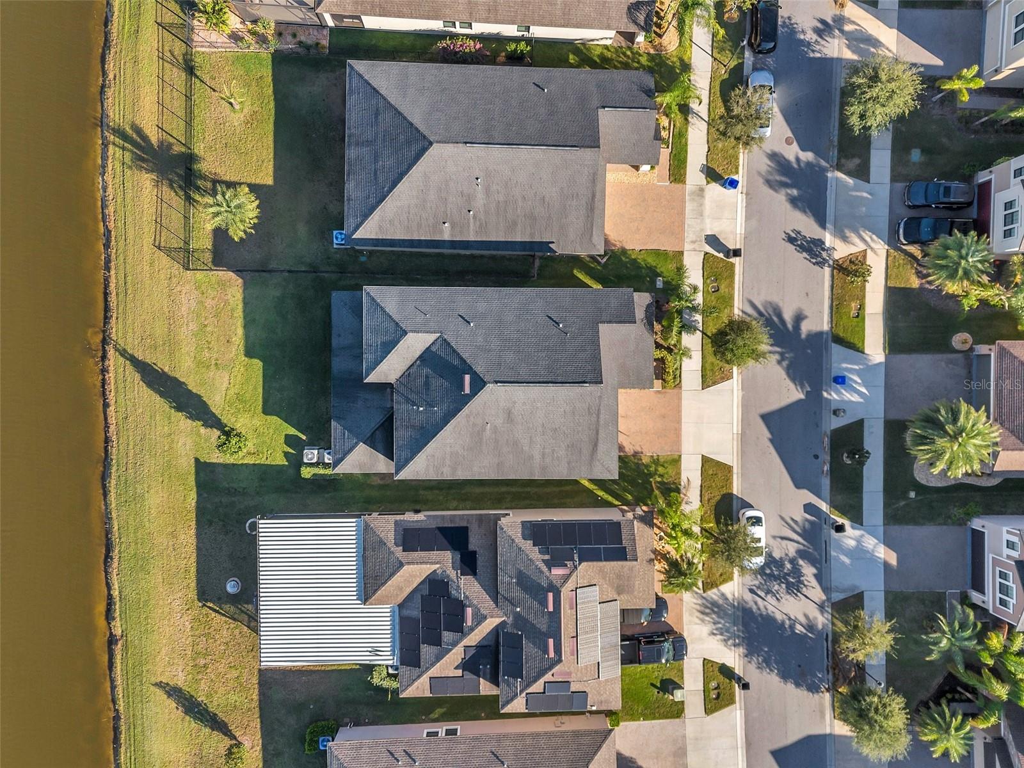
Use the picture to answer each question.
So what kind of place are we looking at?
residential area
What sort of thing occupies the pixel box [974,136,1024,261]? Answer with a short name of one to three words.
house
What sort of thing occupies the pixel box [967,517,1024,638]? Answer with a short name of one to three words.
house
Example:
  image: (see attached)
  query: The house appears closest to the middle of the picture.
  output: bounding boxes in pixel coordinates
[331,285,656,480]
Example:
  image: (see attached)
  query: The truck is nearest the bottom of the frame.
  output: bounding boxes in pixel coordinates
[620,630,684,663]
